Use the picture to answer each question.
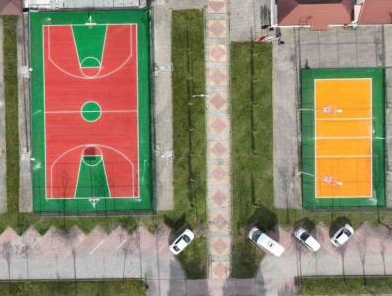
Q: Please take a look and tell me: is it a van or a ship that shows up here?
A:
van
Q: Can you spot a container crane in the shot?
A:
No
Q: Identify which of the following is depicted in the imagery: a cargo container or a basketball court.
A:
basketball court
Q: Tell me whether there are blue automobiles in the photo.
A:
No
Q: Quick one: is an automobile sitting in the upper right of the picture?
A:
No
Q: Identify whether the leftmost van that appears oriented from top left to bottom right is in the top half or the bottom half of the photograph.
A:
bottom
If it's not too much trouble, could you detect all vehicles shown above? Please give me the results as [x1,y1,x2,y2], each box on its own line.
[248,226,287,258]
[293,226,322,252]
[329,222,354,247]
[167,229,194,256]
